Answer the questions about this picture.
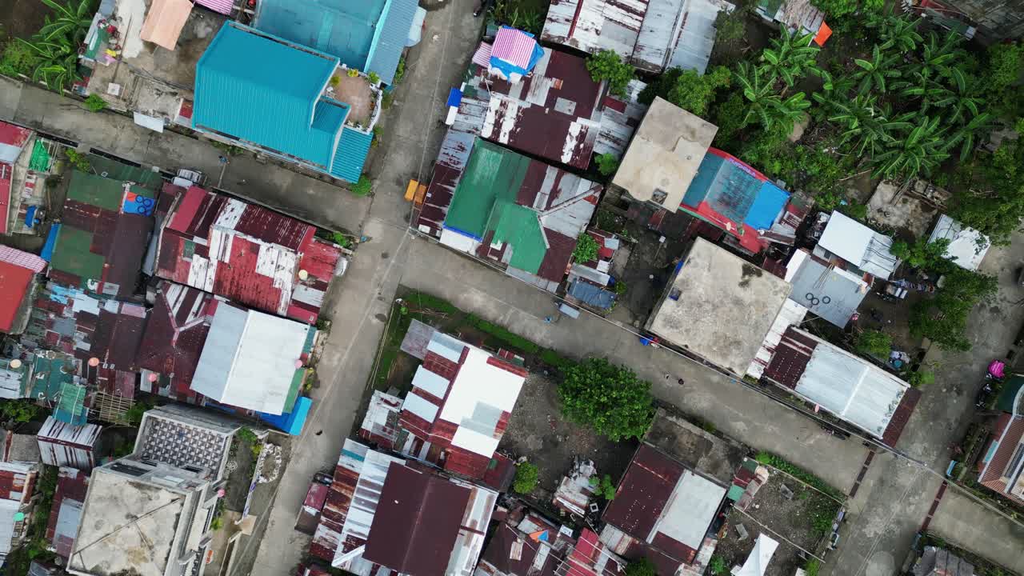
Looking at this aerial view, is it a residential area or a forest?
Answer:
residential area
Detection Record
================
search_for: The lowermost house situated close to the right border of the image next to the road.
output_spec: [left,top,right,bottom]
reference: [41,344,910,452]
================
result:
[897,540,975,576]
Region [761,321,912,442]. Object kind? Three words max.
house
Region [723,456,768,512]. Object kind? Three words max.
shed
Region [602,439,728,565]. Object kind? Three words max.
house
